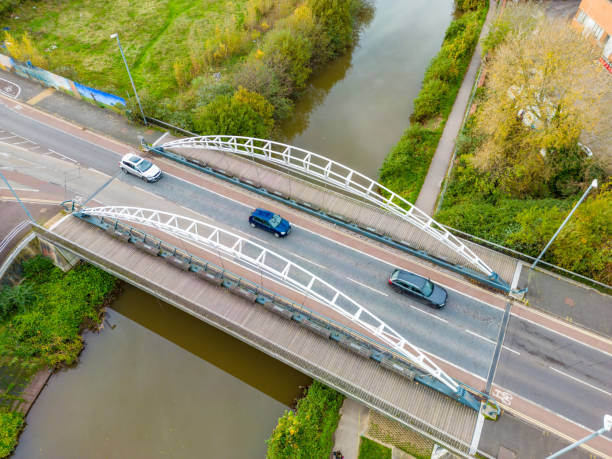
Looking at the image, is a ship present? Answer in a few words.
No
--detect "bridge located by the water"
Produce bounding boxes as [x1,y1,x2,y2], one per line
[36,124,530,459]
